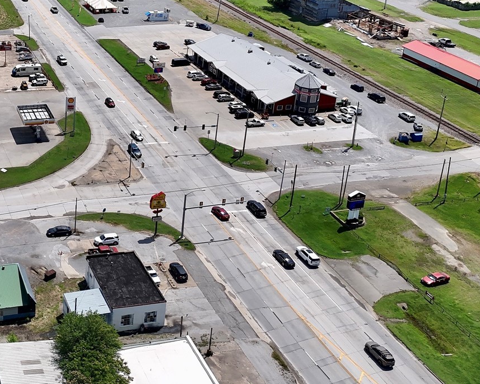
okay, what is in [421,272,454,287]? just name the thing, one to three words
car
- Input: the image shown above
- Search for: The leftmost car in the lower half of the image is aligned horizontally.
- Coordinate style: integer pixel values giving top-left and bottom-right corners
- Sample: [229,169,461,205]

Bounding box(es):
[46,226,74,239]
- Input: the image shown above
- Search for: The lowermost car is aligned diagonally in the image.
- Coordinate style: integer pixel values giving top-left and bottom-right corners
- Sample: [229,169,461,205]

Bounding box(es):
[362,337,399,368]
